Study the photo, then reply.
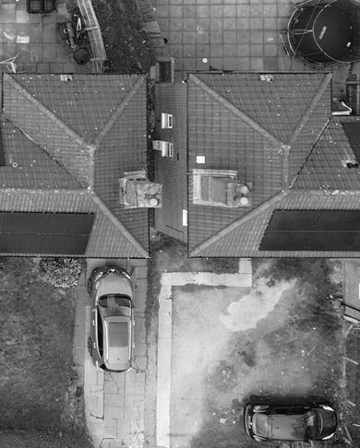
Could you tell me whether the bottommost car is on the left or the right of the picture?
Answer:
right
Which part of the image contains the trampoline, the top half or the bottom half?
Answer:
top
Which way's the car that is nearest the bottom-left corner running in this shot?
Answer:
from top to bottom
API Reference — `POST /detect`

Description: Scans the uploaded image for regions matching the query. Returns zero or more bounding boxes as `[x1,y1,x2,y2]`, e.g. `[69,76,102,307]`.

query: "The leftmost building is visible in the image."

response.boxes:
[0,70,159,259]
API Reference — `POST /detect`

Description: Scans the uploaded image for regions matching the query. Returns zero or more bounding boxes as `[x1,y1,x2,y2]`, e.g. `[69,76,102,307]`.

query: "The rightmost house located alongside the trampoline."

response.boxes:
[150,70,360,259]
